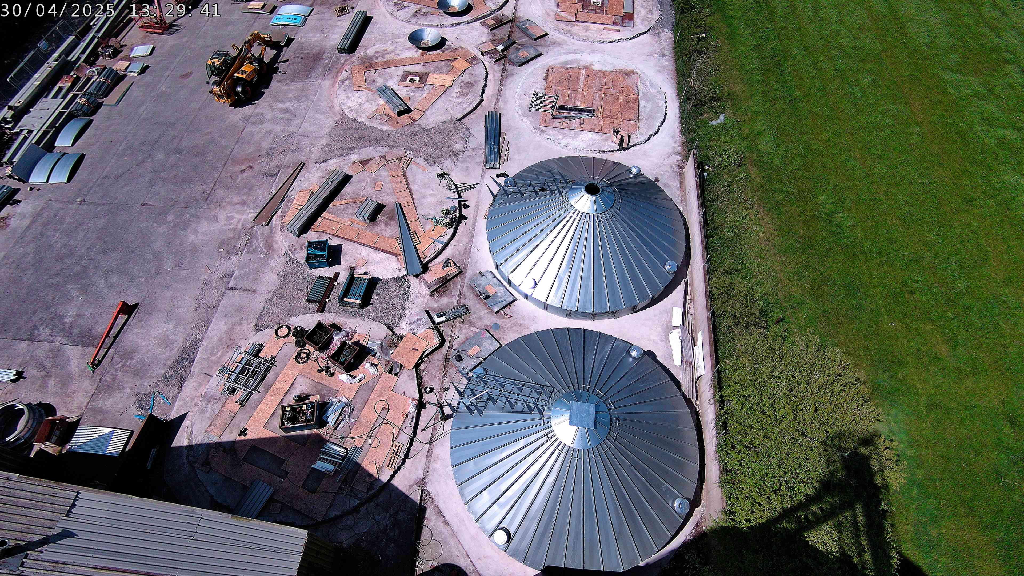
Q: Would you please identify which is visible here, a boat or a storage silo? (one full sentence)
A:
This aerial view contains a storage silo.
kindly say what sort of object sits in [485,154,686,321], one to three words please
silo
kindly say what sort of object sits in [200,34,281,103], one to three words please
work vehicle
